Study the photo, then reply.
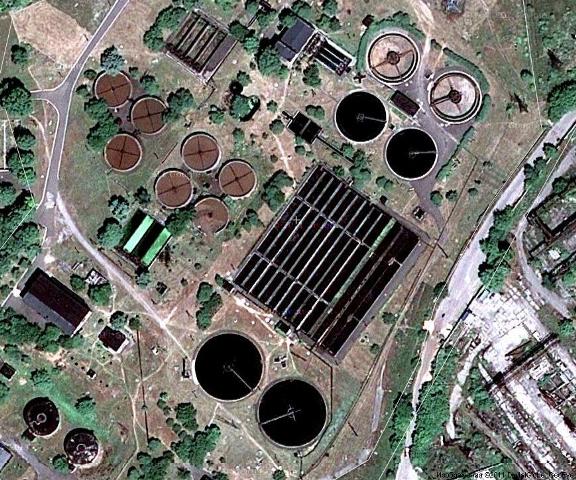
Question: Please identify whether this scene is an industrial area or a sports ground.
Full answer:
It's an industrial area.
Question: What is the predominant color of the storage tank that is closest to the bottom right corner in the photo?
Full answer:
In this view, the storage tank that is closest to the bottom right corner is black.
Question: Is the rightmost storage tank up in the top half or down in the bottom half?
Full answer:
Seen from above, the rightmost storage tank lies in the top half of the view.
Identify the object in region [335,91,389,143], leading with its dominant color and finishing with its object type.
black storage tank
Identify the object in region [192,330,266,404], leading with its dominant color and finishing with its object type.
black storage tank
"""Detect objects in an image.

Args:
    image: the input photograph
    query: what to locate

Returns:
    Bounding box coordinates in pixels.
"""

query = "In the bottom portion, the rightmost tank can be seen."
[254,376,328,450]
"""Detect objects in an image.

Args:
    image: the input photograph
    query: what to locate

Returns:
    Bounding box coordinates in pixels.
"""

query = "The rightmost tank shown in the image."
[429,70,482,123]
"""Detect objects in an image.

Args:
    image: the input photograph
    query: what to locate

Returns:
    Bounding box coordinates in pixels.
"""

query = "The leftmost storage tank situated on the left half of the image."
[22,399,60,436]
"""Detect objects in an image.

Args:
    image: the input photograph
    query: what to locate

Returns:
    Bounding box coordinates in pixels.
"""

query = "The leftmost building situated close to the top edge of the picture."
[277,15,319,66]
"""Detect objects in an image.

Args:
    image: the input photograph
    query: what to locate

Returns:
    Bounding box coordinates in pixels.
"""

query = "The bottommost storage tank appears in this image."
[64,429,100,465]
